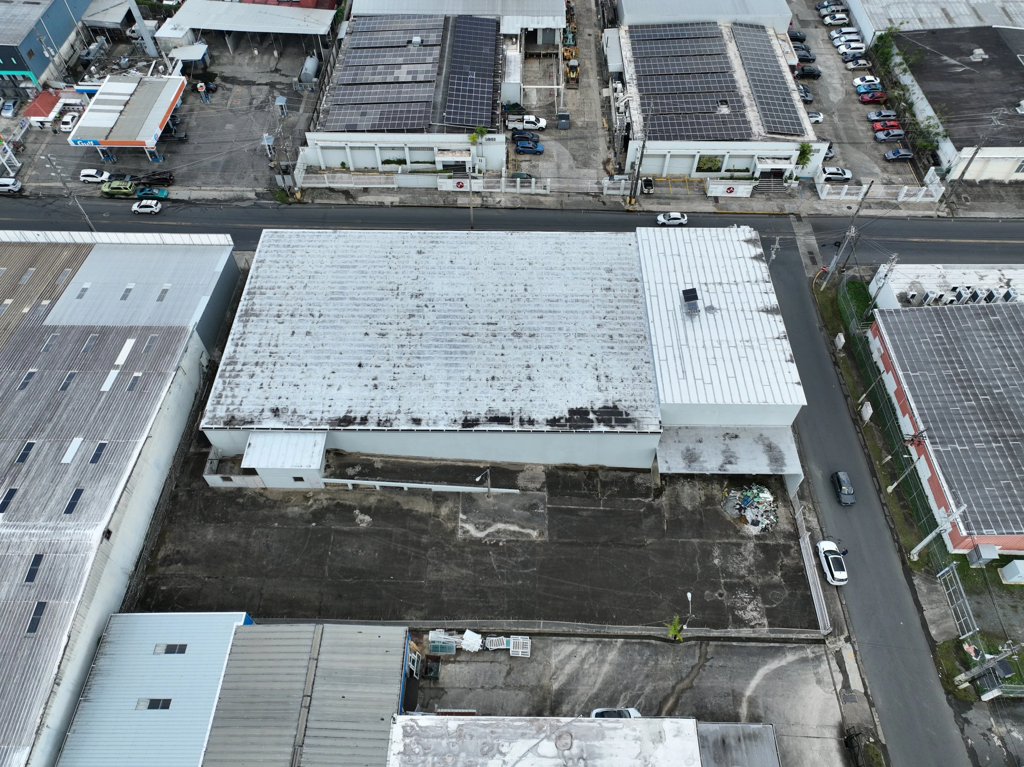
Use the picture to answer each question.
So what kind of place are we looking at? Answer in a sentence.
What you see here is an industrial area.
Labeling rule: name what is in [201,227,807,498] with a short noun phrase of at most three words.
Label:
warehouse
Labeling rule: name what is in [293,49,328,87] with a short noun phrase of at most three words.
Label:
storage tank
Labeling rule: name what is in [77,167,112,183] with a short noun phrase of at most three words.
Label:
car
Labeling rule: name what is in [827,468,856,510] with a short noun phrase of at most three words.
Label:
car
